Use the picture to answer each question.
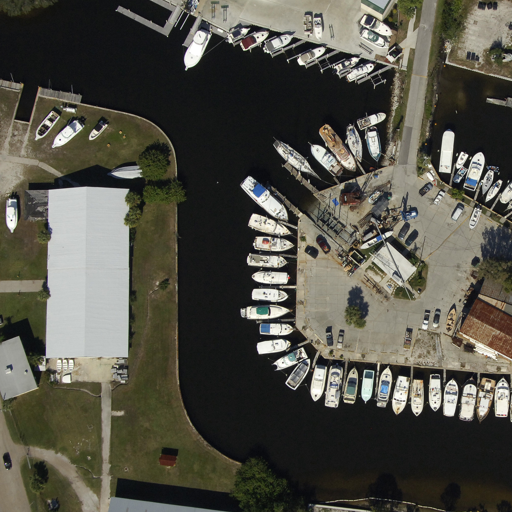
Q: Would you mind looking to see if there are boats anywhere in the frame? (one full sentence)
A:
Yes, I can see a boat in this picture.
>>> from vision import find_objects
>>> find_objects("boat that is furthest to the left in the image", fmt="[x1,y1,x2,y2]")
[6,195,19,234]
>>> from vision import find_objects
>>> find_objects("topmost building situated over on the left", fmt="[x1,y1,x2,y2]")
[24,187,131,358]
